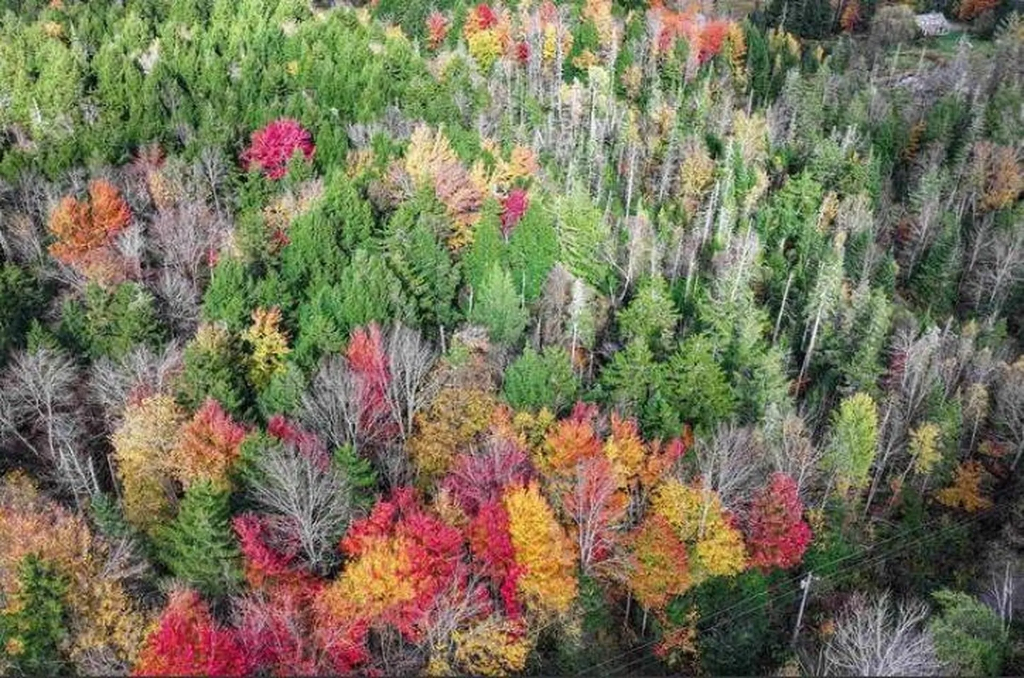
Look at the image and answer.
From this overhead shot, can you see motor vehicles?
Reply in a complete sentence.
No, the scene contains no motor vehicle.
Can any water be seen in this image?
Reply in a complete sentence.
No, no water is visible.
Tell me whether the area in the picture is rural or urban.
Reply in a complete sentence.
The area is rural.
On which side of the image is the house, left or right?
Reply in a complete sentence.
The house appears in the right half of the scene.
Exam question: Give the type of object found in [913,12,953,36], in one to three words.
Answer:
house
